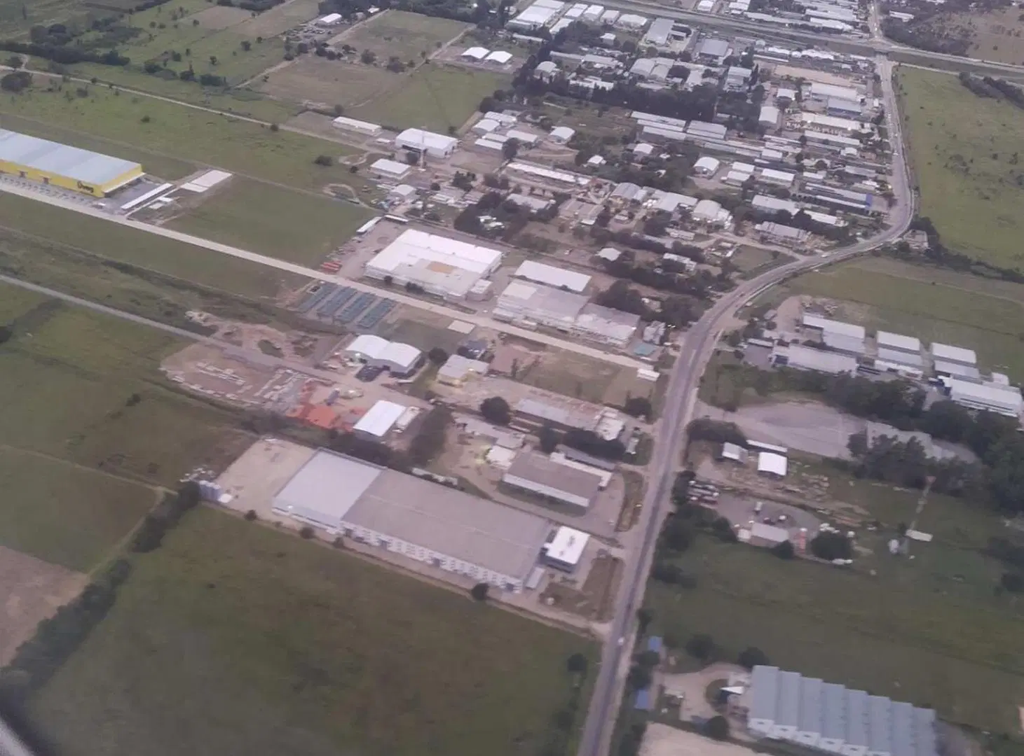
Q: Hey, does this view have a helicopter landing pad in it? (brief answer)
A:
No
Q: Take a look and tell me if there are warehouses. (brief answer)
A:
Yes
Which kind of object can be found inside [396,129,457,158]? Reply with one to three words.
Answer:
hangar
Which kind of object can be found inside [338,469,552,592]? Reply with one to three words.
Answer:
warehouse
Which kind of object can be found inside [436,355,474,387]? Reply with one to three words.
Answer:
building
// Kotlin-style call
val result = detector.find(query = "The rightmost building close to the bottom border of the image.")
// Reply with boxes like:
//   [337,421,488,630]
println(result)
[752,666,935,756]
